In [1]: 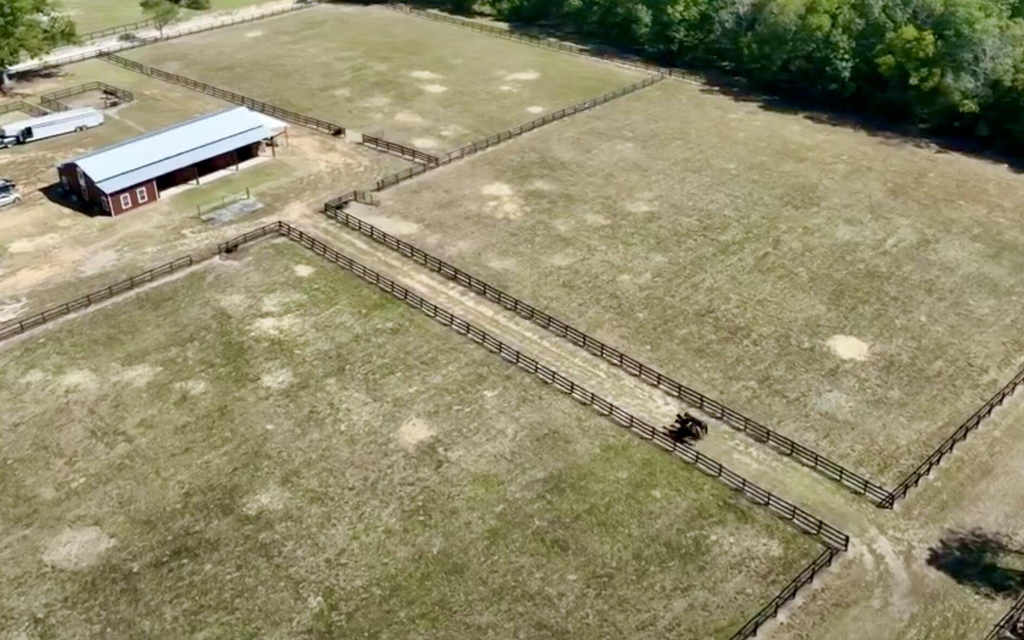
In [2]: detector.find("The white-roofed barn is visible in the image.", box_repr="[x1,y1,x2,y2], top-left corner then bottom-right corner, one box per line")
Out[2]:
[51,110,290,217]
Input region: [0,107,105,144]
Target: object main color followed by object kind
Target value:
white trailer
